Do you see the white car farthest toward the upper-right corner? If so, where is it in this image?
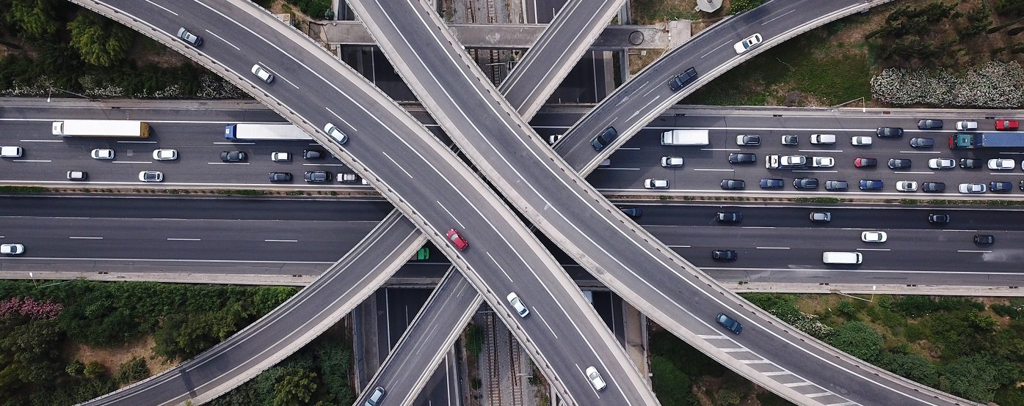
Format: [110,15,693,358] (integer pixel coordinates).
[954,119,978,131]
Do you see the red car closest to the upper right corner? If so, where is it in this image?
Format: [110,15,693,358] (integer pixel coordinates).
[993,118,1020,130]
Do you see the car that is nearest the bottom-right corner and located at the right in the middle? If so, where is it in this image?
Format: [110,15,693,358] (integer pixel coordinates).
[972,234,994,246]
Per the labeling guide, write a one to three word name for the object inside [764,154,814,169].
vehicle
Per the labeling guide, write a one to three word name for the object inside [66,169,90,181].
vehicle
